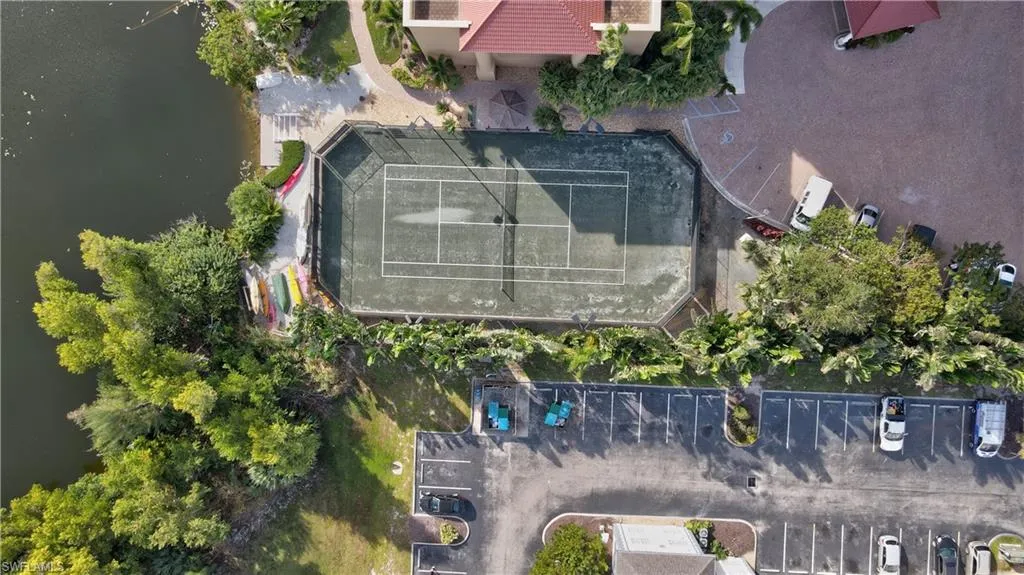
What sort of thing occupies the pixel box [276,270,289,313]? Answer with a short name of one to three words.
boat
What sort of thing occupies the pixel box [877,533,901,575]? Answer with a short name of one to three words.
car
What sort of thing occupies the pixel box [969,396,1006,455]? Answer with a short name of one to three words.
van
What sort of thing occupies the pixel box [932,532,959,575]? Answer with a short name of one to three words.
car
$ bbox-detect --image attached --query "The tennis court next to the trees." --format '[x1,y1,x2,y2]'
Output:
[318,125,696,326]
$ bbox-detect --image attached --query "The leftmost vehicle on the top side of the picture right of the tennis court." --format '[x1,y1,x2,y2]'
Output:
[787,174,832,233]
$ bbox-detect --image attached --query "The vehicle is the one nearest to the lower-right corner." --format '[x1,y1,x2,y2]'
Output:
[966,538,992,575]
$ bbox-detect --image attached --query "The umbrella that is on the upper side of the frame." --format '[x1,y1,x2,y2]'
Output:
[488,84,528,125]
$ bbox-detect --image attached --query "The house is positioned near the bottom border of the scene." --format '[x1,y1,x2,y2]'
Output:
[612,517,752,575]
